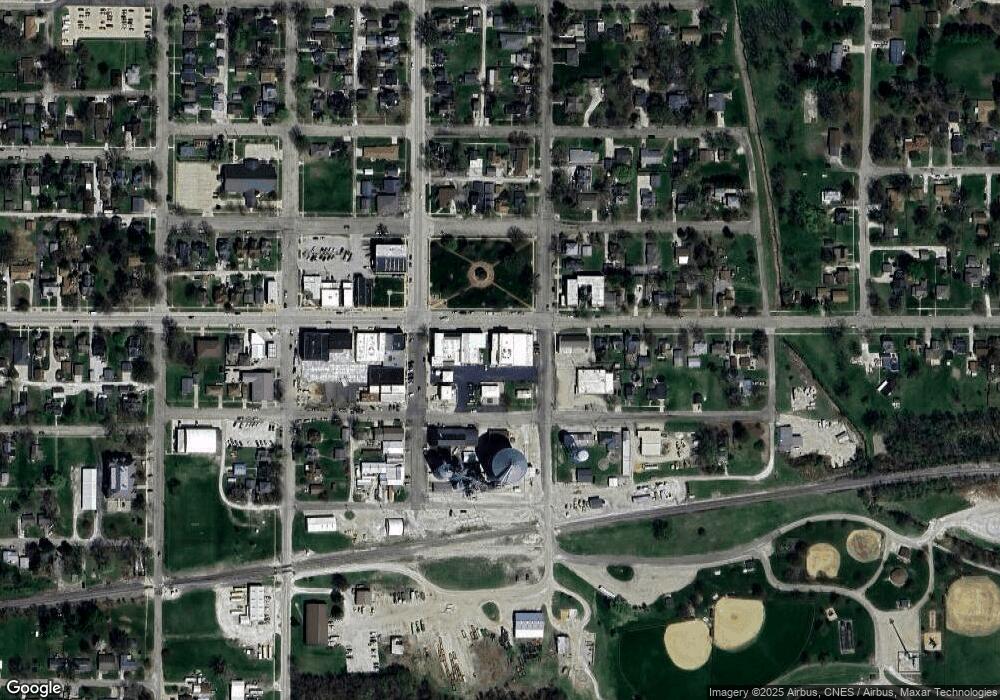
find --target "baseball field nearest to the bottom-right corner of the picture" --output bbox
[946,573,1000,637]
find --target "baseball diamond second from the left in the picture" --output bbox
[713,597,765,651]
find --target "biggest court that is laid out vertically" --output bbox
[838,619,855,654]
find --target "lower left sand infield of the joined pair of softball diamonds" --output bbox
[664,619,713,670]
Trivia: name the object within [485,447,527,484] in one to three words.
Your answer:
silo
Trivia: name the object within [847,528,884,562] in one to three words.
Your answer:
baseball field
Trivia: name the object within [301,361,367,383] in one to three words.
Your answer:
building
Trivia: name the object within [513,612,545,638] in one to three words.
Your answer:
shed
